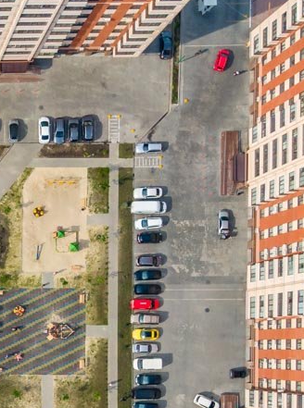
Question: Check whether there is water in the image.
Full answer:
No, the picture contains no water.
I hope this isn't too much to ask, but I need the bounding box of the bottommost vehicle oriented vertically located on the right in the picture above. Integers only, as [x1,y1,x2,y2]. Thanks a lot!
[217,209,232,241]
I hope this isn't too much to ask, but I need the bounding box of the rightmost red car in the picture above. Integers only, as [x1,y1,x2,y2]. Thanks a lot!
[214,48,230,73]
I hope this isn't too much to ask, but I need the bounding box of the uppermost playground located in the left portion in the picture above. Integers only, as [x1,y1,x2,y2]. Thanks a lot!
[23,167,88,273]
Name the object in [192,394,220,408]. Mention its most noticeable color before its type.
white car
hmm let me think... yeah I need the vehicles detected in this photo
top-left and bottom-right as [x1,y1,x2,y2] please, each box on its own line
[130,297,160,310]
[135,373,162,386]
[9,119,21,143]
[134,268,162,281]
[217,209,232,241]
[83,117,96,141]
[134,216,164,229]
[131,387,161,400]
[214,48,230,73]
[136,254,162,267]
[132,186,163,199]
[131,328,160,341]
[68,119,80,142]
[136,231,162,244]
[132,400,159,408]
[134,283,163,295]
[130,199,167,214]
[38,117,51,144]
[132,357,165,371]
[53,117,66,144]
[130,313,160,326]
[132,342,157,353]
[160,31,174,59]
[228,367,253,379]
[136,141,162,154]
[192,394,220,408]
